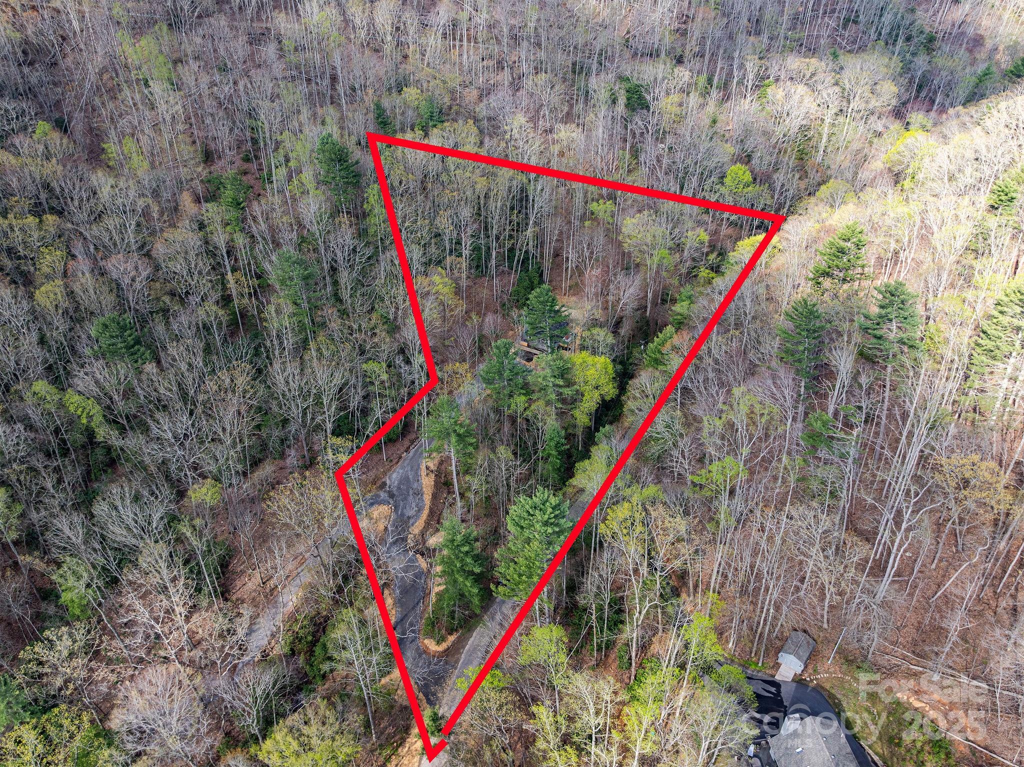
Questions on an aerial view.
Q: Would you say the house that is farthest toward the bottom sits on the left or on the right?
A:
right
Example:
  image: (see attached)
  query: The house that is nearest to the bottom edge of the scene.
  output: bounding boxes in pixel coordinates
[768,711,869,767]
